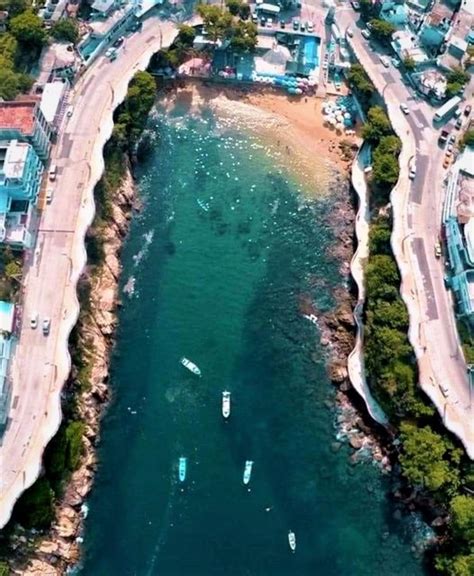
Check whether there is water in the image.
Yes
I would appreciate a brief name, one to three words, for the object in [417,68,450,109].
house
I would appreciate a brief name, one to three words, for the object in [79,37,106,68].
building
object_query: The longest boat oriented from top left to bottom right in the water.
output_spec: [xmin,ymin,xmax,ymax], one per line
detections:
[179,356,200,374]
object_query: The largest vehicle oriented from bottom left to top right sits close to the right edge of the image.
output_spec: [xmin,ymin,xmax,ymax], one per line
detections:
[430,96,460,123]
